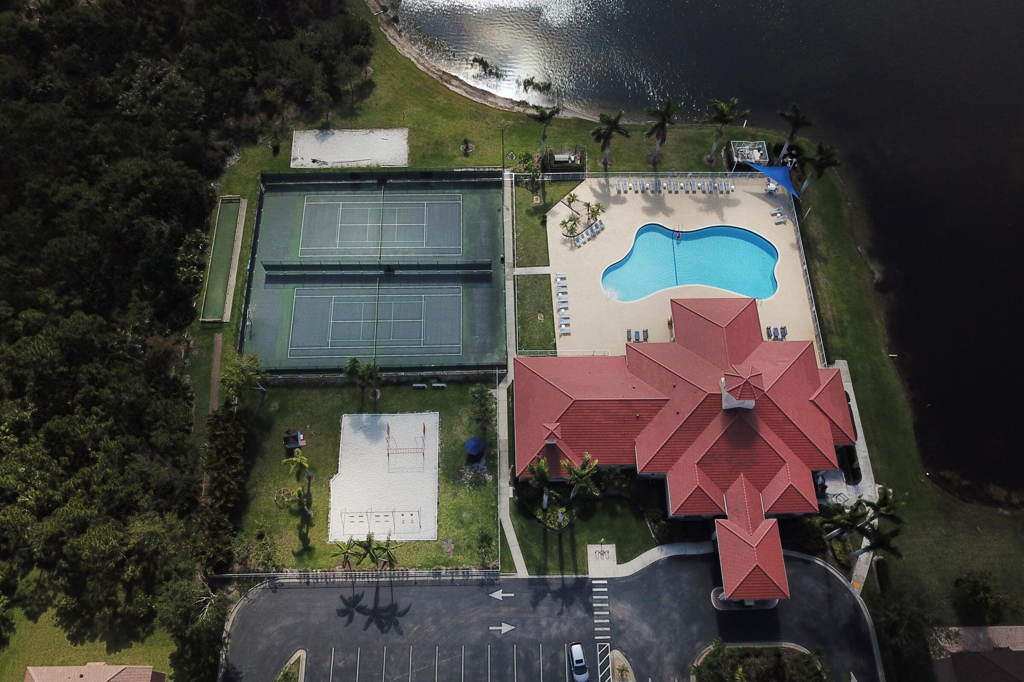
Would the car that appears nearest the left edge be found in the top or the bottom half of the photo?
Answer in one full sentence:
You can find the car that appears nearest the left edge in the bottom half.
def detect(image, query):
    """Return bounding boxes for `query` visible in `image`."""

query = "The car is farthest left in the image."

[569,642,591,682]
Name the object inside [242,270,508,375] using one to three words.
tennis court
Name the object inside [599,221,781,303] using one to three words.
swimming pool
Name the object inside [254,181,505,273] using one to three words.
tennis court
